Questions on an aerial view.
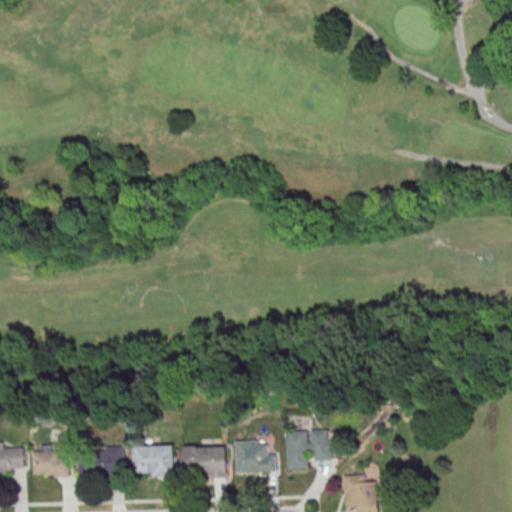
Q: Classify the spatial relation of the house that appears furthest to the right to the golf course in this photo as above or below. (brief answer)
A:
below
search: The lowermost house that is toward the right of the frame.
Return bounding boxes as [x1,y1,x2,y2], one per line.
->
[343,476,378,512]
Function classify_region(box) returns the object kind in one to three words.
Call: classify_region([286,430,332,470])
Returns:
house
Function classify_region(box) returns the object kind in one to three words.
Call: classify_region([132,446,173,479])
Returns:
house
